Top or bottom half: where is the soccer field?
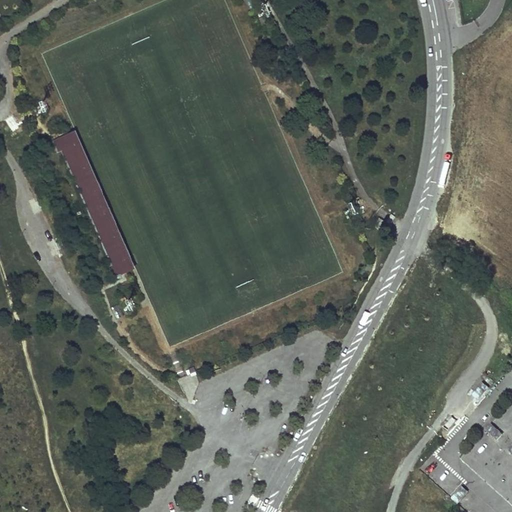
top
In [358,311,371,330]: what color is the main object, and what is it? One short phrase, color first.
white vehicle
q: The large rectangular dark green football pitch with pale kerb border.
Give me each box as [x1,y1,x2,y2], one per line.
[41,0,343,348]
